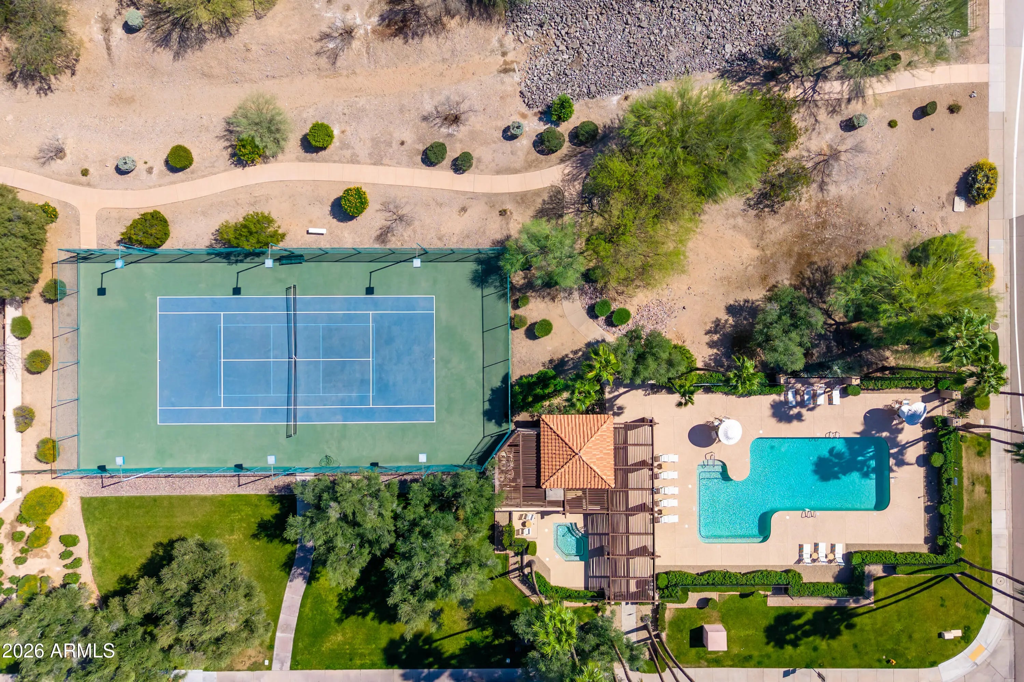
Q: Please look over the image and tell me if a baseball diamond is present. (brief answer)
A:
No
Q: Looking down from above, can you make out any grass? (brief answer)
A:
Yes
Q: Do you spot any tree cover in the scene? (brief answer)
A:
Yes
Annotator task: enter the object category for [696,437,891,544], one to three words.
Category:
swimming pool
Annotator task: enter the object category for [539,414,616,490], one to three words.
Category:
building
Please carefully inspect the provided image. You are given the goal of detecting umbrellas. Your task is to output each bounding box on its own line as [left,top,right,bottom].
[901,400,928,428]
[716,417,743,446]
